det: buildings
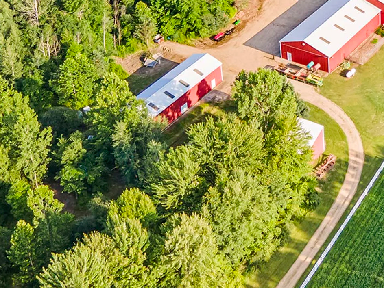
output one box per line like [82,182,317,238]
[270,115,326,161]
[132,52,223,134]
[279,0,382,73]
